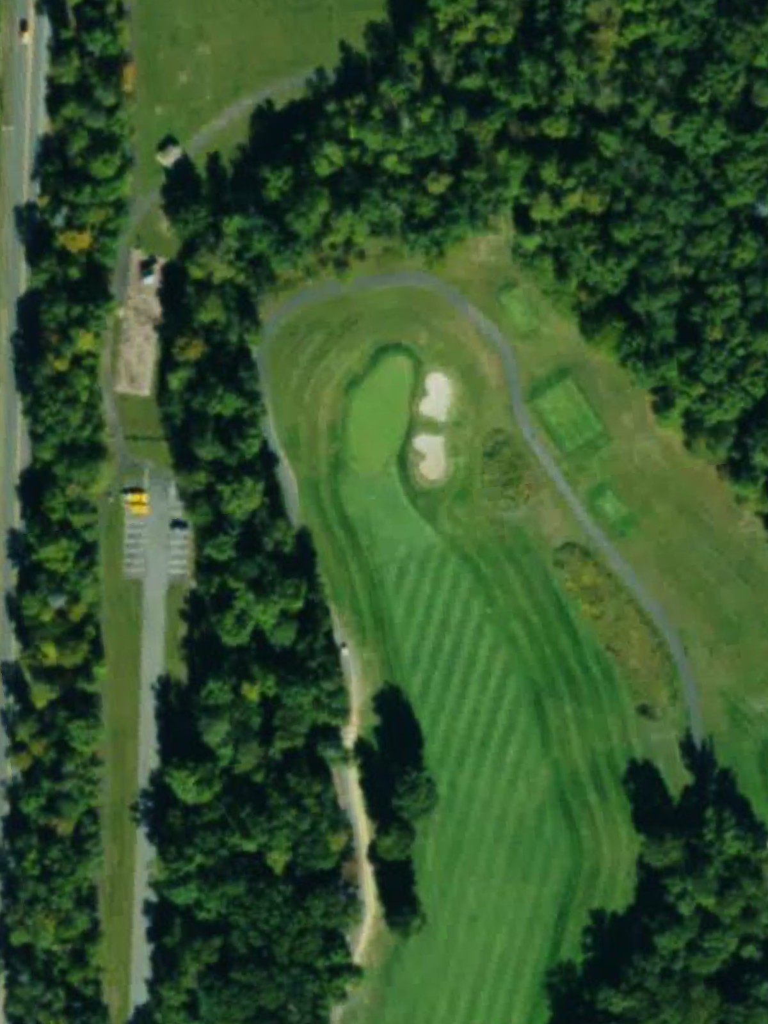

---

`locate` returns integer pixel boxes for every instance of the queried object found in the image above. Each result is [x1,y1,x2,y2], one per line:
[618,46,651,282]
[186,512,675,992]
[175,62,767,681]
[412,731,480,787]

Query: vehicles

[21,21,29,43]
[170,522,188,530]
[124,493,148,501]
[342,647,347,656]
[126,504,150,513]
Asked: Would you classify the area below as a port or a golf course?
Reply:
golf course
